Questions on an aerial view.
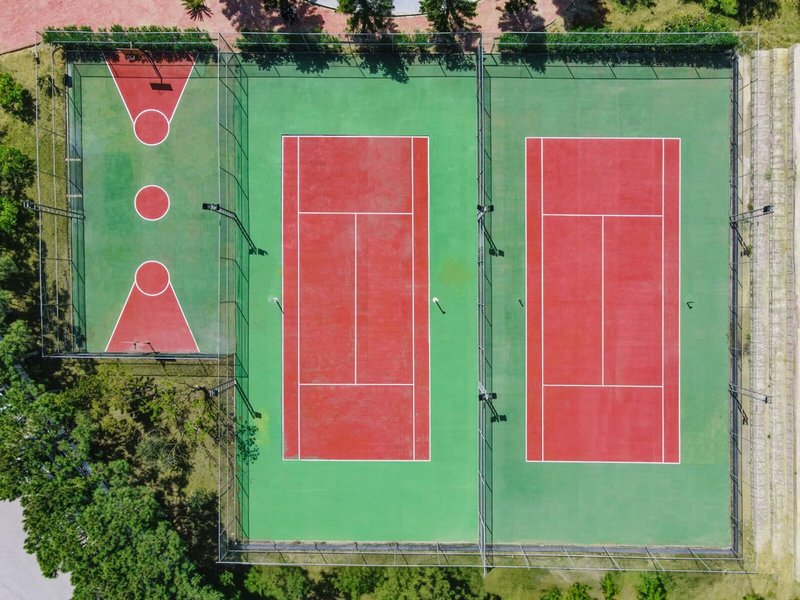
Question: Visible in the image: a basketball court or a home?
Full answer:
The one in the frame is a basketball court.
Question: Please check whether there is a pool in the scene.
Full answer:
No, I can see no pool in this picture.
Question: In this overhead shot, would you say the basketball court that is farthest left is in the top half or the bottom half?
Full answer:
You can find the basketball court that is farthest left in the top half.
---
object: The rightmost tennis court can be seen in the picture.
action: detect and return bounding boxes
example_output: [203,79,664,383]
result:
[479,52,730,545]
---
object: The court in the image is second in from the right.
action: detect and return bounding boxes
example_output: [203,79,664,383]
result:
[235,52,478,541]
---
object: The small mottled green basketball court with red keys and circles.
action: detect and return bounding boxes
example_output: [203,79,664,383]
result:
[68,51,234,353]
